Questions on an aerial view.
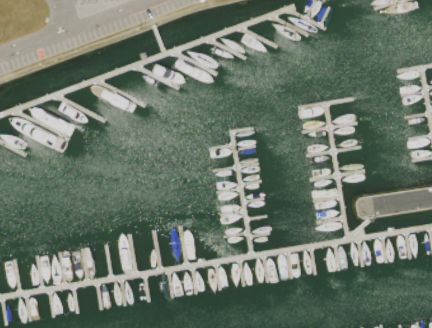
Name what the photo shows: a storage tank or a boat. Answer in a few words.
boat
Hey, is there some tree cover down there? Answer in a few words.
No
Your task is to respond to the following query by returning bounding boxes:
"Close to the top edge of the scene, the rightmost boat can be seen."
[383,0,418,14]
